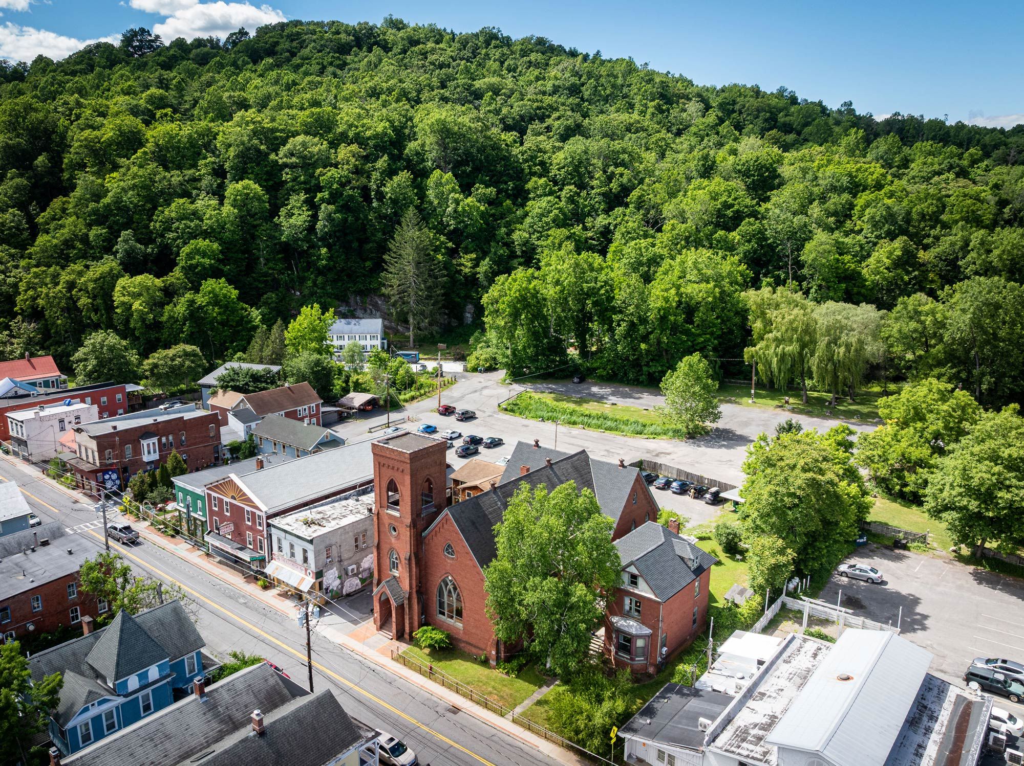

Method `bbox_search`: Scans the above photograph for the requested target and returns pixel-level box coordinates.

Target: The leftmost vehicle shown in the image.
[102,520,139,543]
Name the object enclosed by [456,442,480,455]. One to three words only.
vehicle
